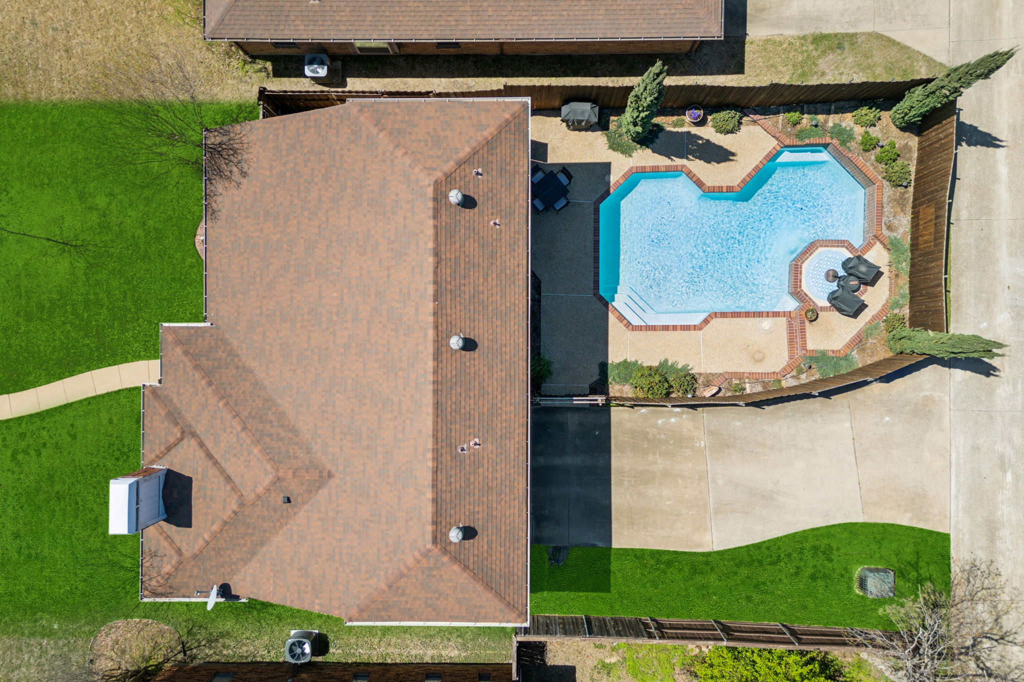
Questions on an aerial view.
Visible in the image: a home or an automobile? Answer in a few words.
home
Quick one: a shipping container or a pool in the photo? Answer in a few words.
pool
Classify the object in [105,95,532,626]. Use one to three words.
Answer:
house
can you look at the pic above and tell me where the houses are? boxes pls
[105,95,532,626]
[140,661,513,682]
[202,0,731,55]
